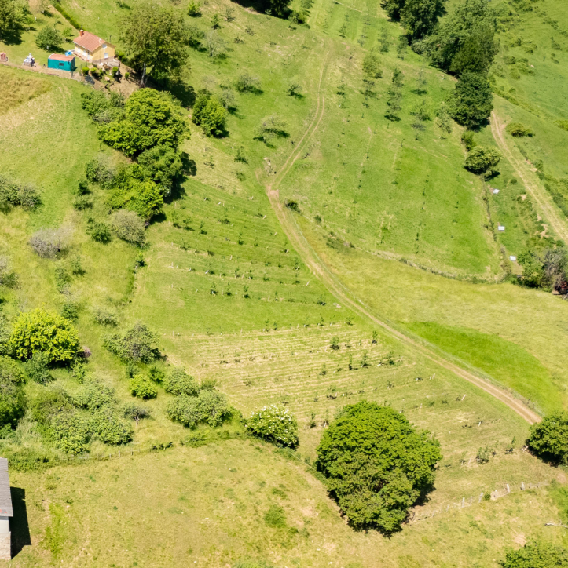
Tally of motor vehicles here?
0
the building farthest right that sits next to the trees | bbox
[76,29,119,62]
